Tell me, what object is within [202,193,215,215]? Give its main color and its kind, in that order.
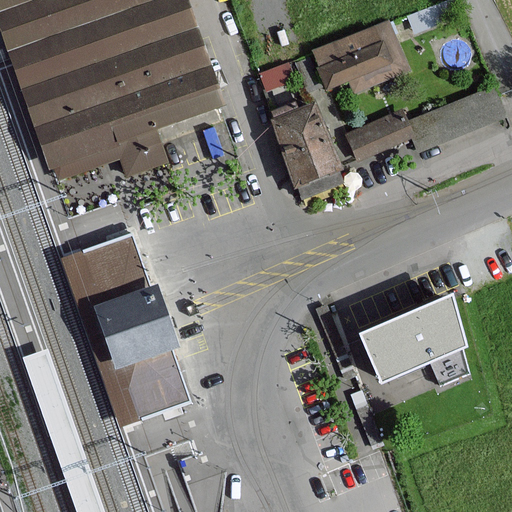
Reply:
black vehicle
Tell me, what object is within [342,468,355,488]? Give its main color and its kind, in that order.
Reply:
red vehicle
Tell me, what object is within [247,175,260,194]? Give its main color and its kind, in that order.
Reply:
white vehicle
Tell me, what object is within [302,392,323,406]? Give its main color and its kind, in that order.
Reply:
red vehicle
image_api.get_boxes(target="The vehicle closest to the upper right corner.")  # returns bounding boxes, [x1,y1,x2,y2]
[420,146,441,160]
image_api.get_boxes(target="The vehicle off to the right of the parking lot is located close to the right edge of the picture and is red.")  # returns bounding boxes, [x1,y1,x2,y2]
[487,258,501,278]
